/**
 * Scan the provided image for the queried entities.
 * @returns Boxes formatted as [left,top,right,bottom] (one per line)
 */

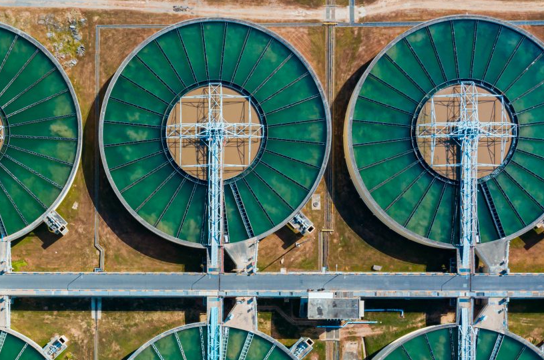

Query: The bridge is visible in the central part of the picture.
[165,81,265,274]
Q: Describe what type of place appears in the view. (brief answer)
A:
industrial area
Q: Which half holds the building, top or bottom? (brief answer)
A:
bottom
